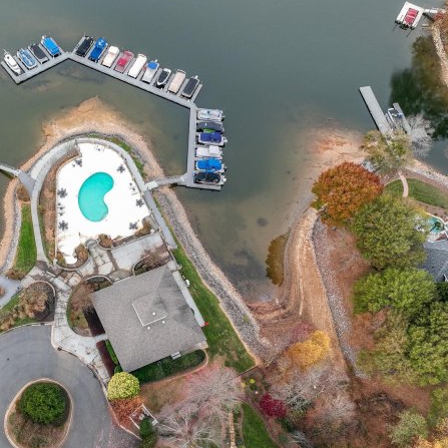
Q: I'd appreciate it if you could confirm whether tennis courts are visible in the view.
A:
No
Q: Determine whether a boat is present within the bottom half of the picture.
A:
No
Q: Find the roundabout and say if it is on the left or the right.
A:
left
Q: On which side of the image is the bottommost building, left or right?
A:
left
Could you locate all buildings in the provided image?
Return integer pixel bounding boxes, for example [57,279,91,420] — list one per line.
[423,229,448,282]
[91,265,207,372]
